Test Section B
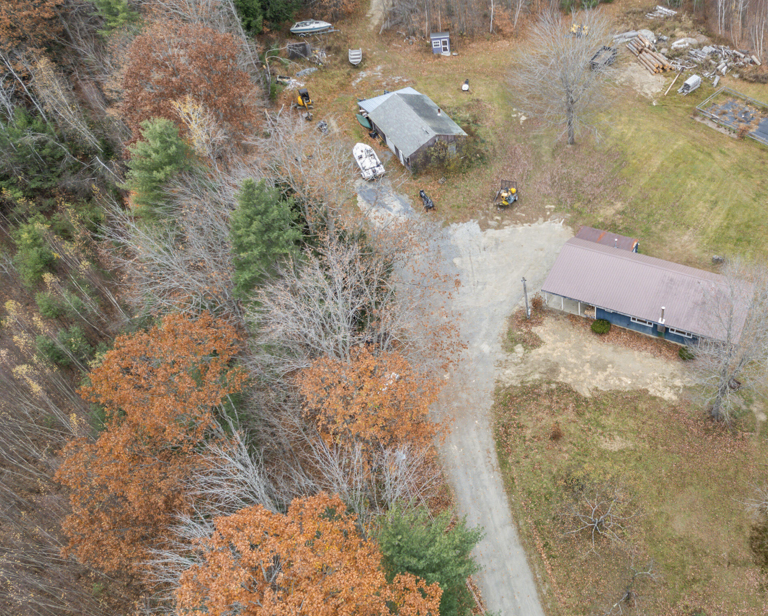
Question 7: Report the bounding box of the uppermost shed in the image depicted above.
[432,32,453,57]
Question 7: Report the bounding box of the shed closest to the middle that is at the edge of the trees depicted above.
[356,87,468,172]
